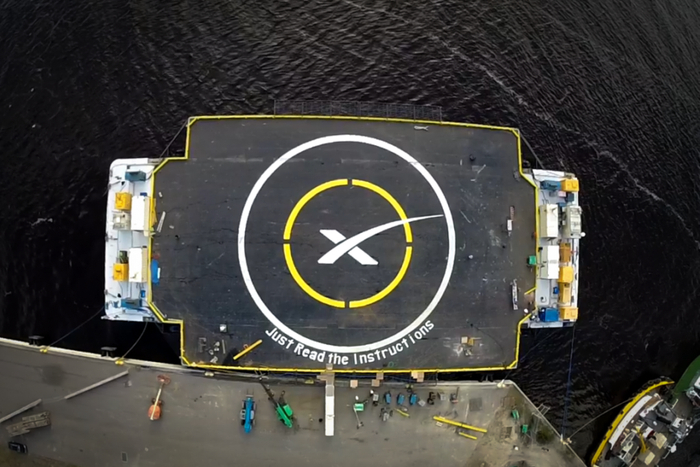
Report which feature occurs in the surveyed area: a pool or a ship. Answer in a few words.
ship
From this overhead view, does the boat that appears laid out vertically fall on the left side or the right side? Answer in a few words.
right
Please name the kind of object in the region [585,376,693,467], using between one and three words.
boat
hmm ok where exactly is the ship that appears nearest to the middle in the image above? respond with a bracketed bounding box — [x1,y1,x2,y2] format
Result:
[100,101,582,373]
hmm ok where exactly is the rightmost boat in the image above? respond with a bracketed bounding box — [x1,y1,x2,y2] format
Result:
[672,353,700,416]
